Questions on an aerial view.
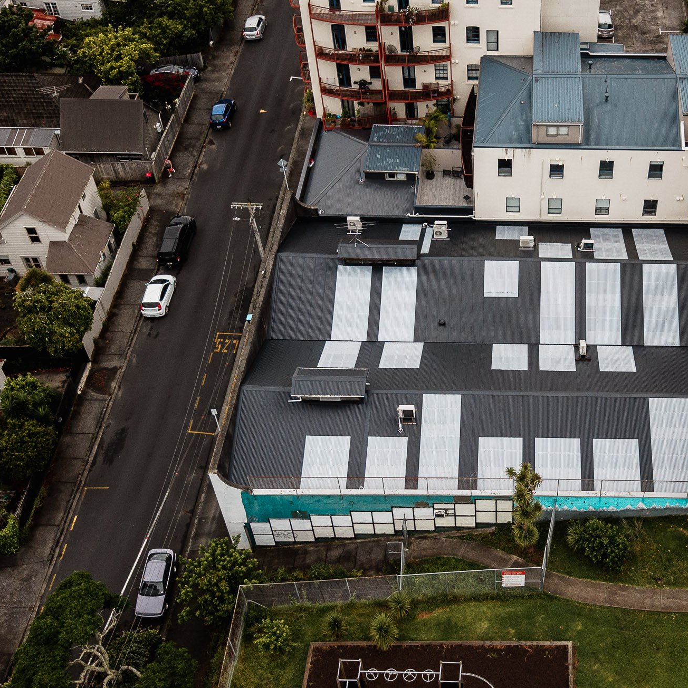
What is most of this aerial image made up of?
buildings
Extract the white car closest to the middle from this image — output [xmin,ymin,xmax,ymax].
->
[139,278,178,322]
